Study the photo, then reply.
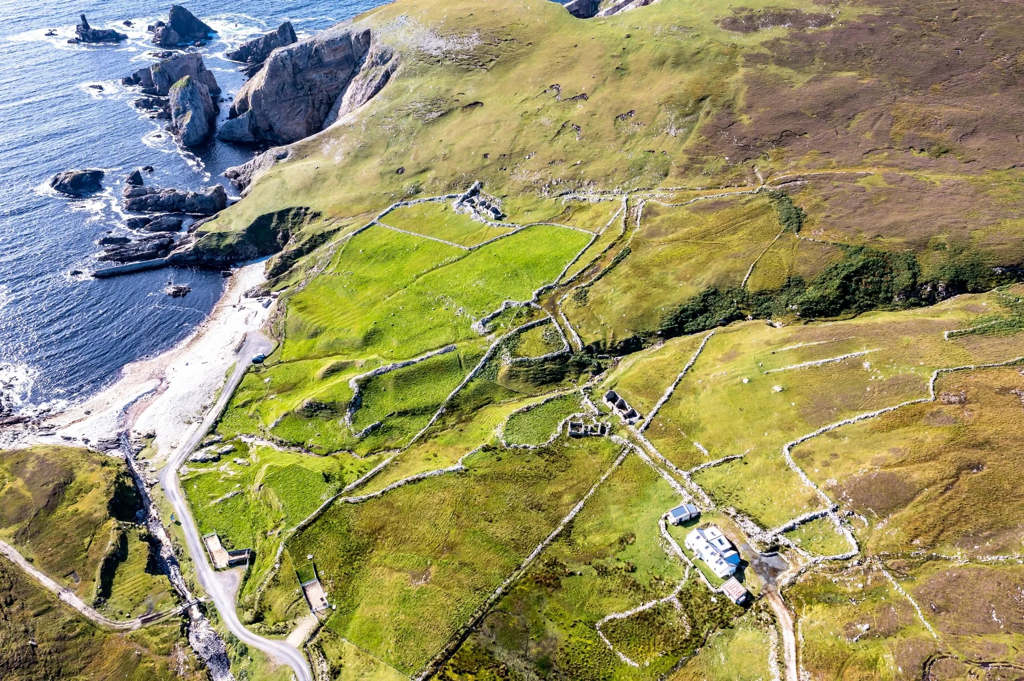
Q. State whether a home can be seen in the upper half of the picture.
Yes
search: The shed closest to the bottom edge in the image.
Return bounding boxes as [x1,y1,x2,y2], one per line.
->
[722,578,749,607]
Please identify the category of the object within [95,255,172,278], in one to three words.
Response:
pier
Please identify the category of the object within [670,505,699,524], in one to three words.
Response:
shed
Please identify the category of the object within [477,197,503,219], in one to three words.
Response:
house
